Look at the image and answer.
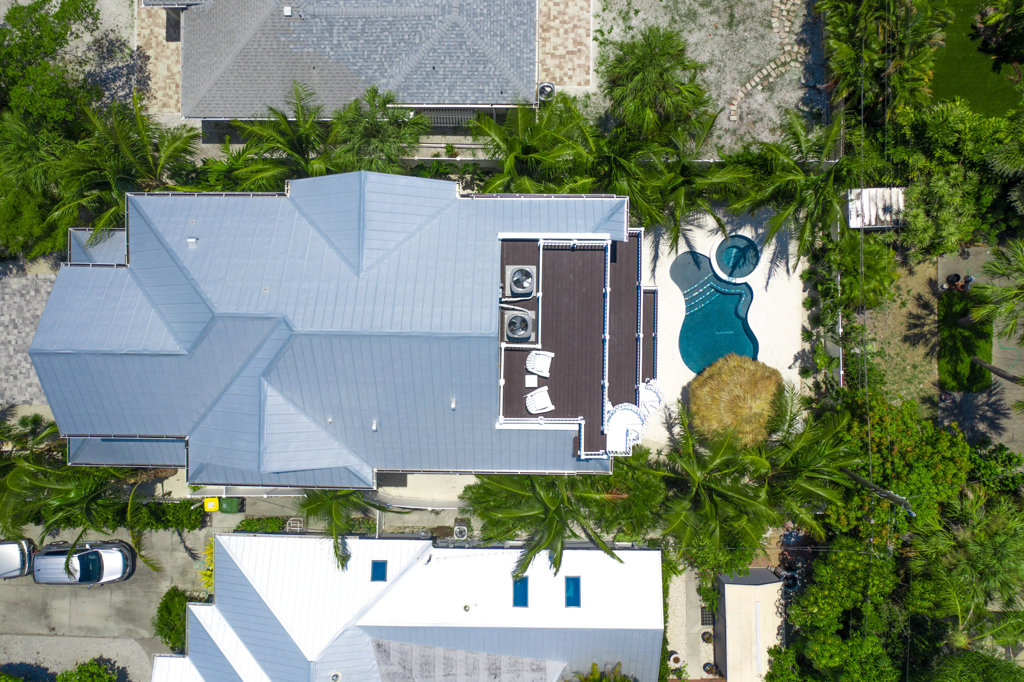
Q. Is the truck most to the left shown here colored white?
Yes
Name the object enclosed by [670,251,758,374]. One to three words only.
swimming pool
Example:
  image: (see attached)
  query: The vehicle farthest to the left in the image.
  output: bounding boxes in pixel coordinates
[0,534,34,579]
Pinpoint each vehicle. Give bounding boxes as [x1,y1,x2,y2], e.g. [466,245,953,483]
[0,534,34,579]
[27,539,136,592]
